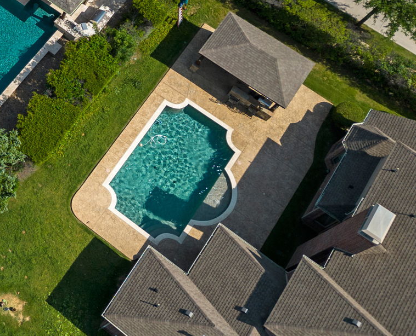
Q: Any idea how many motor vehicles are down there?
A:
0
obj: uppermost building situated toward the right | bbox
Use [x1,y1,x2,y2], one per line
[190,12,316,116]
